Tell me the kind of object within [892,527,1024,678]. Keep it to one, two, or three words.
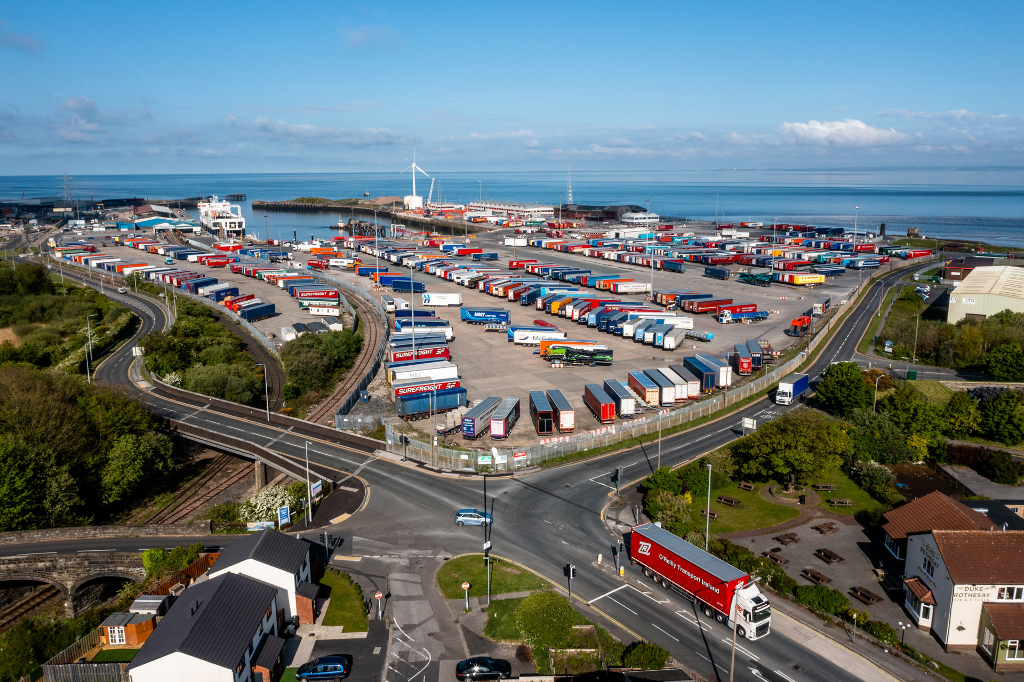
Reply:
building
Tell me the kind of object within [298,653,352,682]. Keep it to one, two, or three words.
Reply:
car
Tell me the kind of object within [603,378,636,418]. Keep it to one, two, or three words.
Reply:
trailer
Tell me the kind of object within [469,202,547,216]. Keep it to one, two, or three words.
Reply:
building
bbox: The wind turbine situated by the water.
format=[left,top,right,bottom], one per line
[400,145,428,198]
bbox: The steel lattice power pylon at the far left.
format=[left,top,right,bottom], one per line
[59,171,75,211]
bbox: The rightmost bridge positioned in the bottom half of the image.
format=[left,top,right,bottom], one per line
[132,377,386,489]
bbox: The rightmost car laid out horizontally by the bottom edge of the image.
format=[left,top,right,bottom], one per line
[456,659,512,682]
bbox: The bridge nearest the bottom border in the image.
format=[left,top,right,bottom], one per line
[0,521,185,611]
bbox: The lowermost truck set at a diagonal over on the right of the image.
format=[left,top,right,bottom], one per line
[629,520,774,636]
